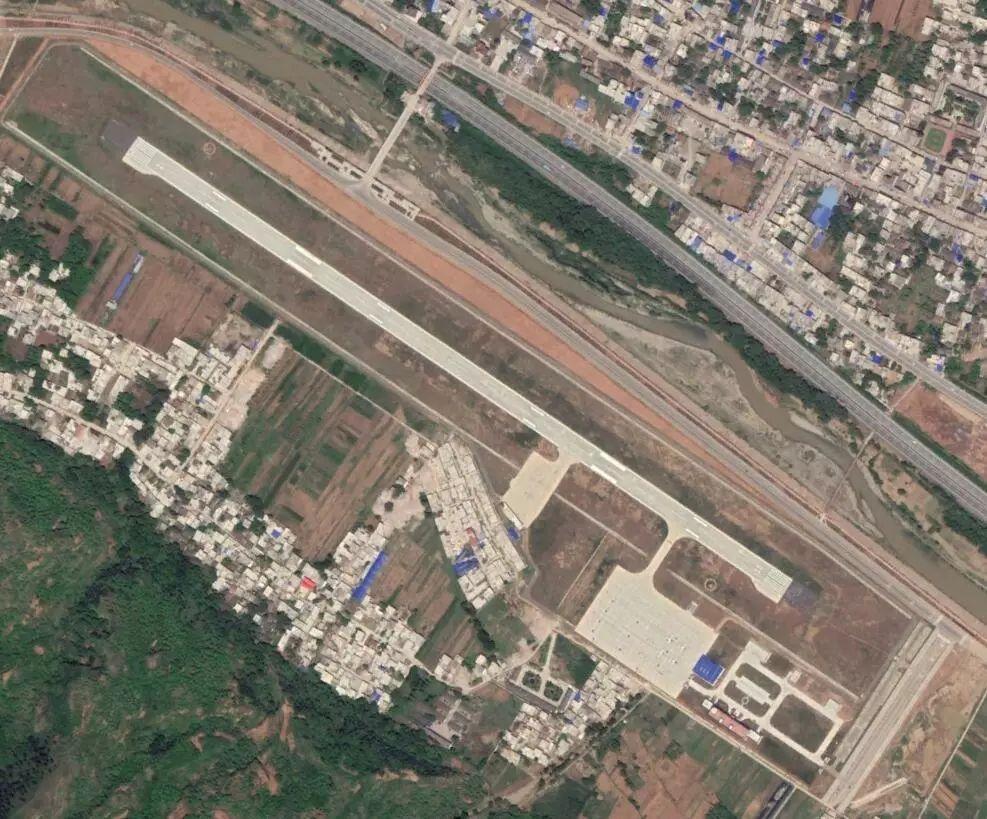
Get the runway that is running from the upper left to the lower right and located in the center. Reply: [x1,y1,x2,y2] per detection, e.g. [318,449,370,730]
[123,138,791,603]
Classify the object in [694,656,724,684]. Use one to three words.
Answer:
hangar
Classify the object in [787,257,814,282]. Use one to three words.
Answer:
house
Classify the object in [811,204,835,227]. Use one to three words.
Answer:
building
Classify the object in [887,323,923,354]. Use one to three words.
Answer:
house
